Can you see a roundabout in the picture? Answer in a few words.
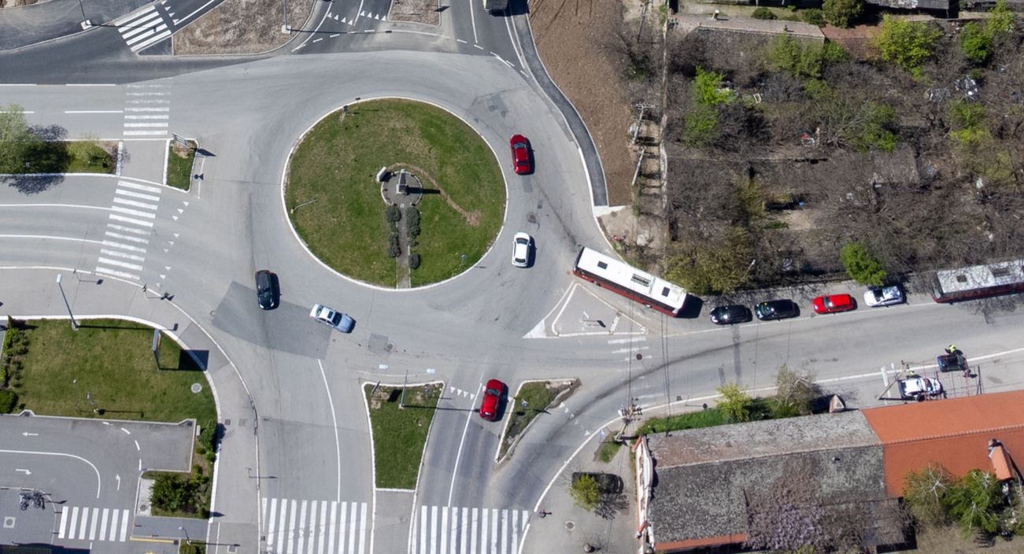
Yes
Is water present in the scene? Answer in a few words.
No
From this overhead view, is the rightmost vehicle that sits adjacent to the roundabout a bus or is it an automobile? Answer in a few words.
bus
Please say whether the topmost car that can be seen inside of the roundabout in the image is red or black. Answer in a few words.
red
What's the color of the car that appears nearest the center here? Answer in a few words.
white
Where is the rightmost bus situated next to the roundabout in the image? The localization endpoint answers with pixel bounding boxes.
[572,248,688,325]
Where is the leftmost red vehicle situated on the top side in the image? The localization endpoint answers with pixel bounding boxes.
[510,137,530,174]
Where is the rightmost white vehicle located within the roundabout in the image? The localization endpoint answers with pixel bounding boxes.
[512,233,532,268]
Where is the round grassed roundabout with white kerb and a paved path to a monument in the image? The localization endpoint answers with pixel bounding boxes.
[246,52,586,347]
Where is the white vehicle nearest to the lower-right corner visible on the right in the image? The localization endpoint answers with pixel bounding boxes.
[898,375,942,397]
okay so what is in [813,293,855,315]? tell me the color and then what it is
red car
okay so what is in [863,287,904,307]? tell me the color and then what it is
white car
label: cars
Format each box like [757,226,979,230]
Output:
[863,287,904,307]
[308,303,354,334]
[754,299,799,321]
[813,293,855,315]
[711,304,752,326]
[256,270,277,310]
[512,233,532,268]
[935,353,968,372]
[898,375,942,397]
[480,380,505,422]
[510,137,530,174]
